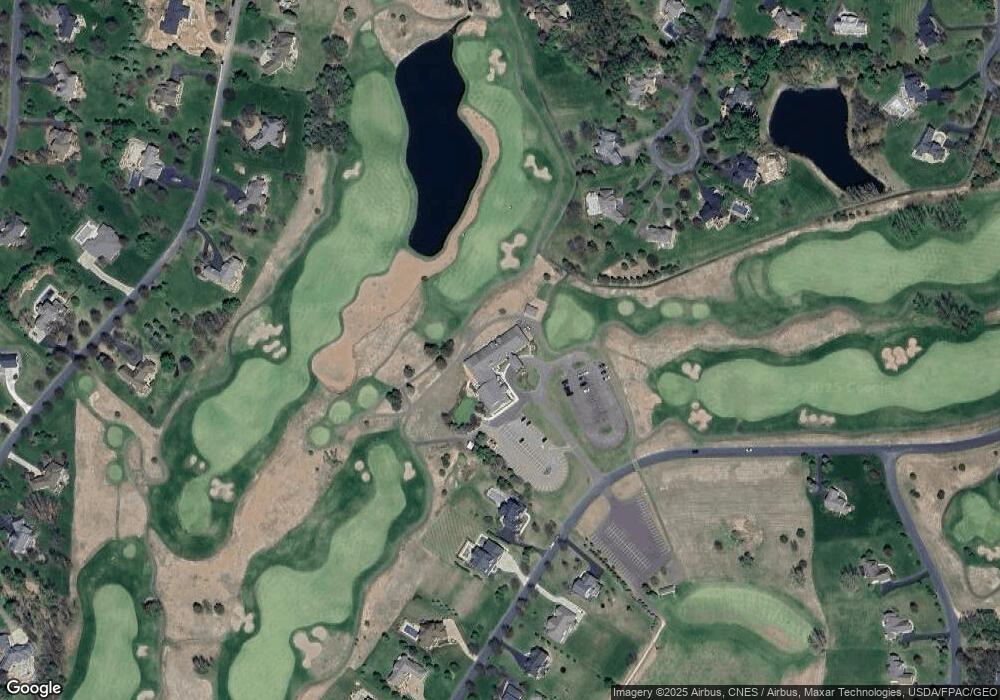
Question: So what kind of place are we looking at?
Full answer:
It's a golf course.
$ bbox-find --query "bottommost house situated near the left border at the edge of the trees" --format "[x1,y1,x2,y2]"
[0,632,33,689]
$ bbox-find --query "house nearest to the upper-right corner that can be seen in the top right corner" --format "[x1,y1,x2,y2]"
[915,16,942,55]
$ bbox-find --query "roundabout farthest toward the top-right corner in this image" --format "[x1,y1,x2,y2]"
[652,97,696,171]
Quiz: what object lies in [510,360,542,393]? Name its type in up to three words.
roundabout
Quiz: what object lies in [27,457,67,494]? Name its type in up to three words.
house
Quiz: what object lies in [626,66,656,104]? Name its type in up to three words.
house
